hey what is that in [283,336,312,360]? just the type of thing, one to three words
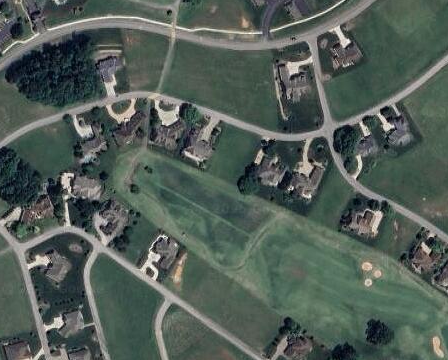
house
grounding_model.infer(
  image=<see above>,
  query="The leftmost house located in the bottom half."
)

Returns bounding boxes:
[5,339,32,360]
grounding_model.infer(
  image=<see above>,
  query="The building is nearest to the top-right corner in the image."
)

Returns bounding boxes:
[332,41,364,66]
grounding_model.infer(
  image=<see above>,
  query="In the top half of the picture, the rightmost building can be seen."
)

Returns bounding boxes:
[384,116,416,146]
